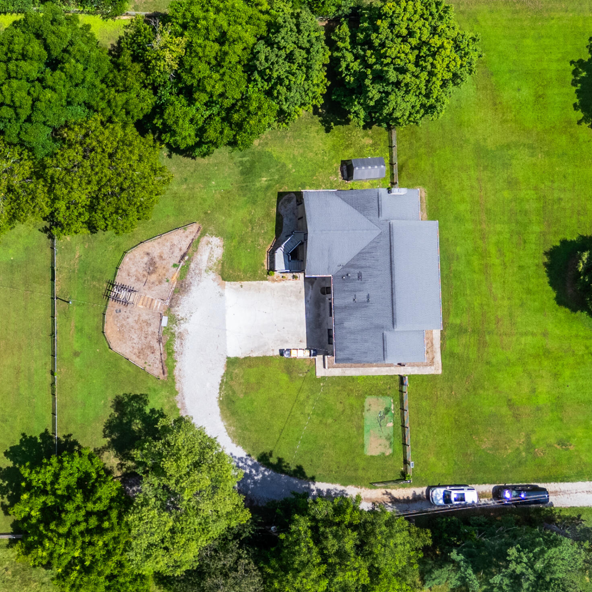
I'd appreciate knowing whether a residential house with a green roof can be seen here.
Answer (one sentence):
No, I can't see a single residential house with a green roof in this photo.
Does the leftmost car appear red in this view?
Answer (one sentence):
No, the color of the leftmost car is white.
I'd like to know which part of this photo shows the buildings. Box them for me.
[295,183,440,364]
[346,157,388,180]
